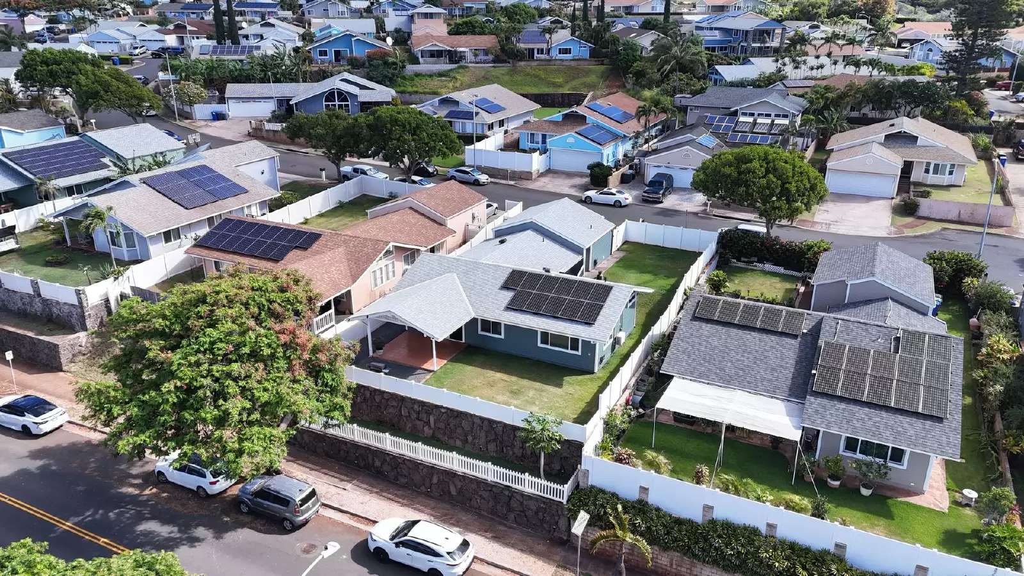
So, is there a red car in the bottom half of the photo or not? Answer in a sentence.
No, there is no red car in the bottom half of the photo.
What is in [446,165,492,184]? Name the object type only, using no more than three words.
car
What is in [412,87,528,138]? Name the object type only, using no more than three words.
house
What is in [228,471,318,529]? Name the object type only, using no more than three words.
car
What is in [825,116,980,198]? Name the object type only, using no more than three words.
house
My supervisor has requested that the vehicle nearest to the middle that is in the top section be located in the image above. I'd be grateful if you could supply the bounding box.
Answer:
[475,191,502,211]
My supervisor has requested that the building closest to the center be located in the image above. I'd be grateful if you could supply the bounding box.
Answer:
[344,197,661,374]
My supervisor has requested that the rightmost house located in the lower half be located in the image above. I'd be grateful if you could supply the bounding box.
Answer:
[658,240,965,498]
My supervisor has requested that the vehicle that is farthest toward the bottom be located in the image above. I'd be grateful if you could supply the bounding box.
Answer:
[365,515,477,576]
